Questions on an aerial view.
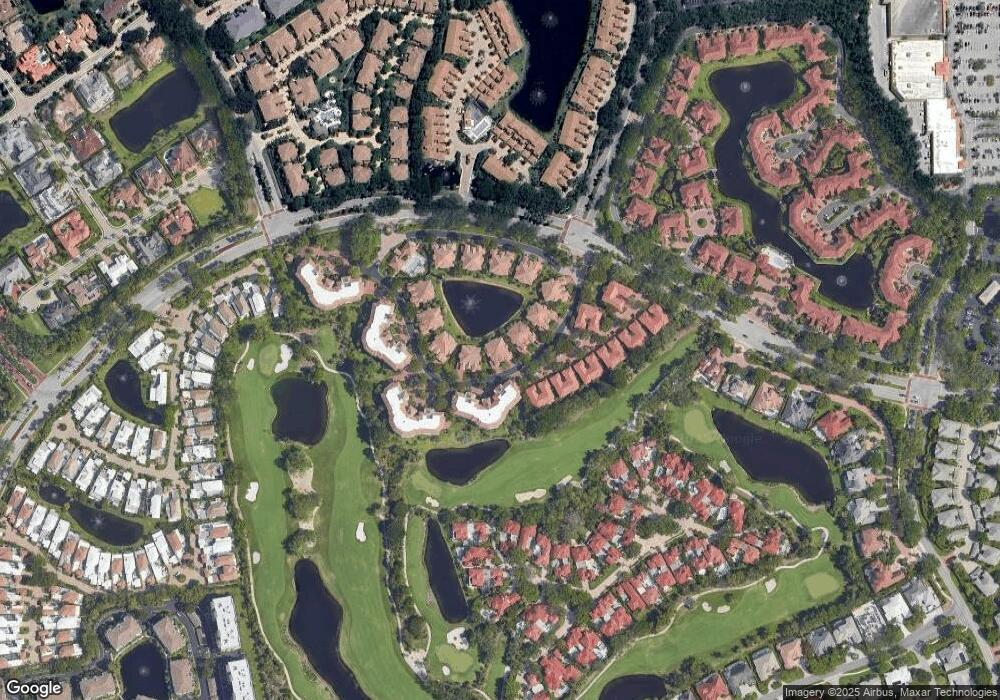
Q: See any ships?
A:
No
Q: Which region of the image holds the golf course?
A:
bottom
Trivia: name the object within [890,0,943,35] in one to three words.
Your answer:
building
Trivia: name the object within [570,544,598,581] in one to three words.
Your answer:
house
